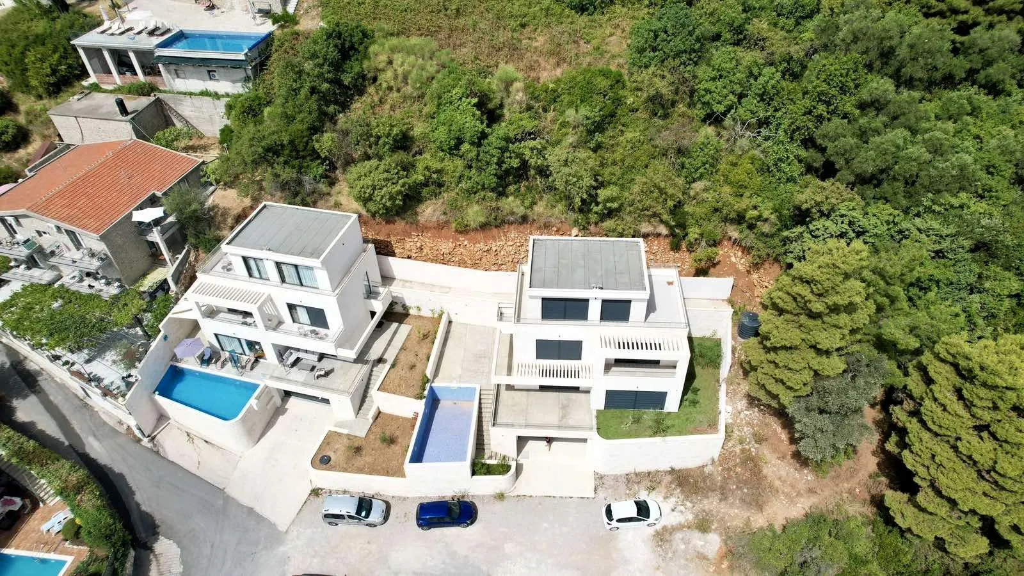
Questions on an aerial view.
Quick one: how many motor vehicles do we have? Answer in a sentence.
The photo contains 3 motor vehicles.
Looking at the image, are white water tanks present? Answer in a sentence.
No, I can see no white water tank in this picture.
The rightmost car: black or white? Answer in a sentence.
The rightmost car looks white in the image.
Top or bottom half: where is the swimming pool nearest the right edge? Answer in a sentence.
You can find the swimming pool nearest the right edge in the bottom half.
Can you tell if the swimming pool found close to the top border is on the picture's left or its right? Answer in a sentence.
The swimming pool found close to the top border appears in the left half of the scene.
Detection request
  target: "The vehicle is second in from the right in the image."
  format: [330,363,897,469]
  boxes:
[417,497,476,533]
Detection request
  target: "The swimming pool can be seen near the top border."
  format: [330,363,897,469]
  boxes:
[158,25,274,70]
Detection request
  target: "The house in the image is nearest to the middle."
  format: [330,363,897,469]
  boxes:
[491,236,692,461]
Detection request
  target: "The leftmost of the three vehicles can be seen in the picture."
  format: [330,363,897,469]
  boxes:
[321,493,389,529]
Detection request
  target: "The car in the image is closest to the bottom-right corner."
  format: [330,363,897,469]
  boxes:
[601,495,663,532]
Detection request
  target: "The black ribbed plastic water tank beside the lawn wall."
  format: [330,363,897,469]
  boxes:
[740,314,764,342]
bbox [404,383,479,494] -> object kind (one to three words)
swimming pool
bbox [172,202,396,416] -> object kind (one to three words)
house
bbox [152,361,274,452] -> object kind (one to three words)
swimming pool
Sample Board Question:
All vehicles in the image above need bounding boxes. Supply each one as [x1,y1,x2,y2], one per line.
[601,495,663,532]
[321,493,389,529]
[417,497,476,533]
